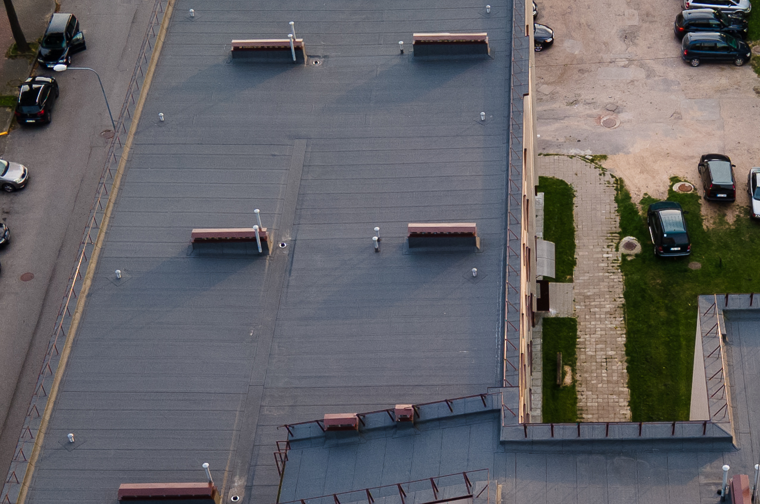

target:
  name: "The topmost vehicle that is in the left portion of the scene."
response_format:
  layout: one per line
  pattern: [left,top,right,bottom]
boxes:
[30,1,91,63]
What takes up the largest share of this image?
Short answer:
buildings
